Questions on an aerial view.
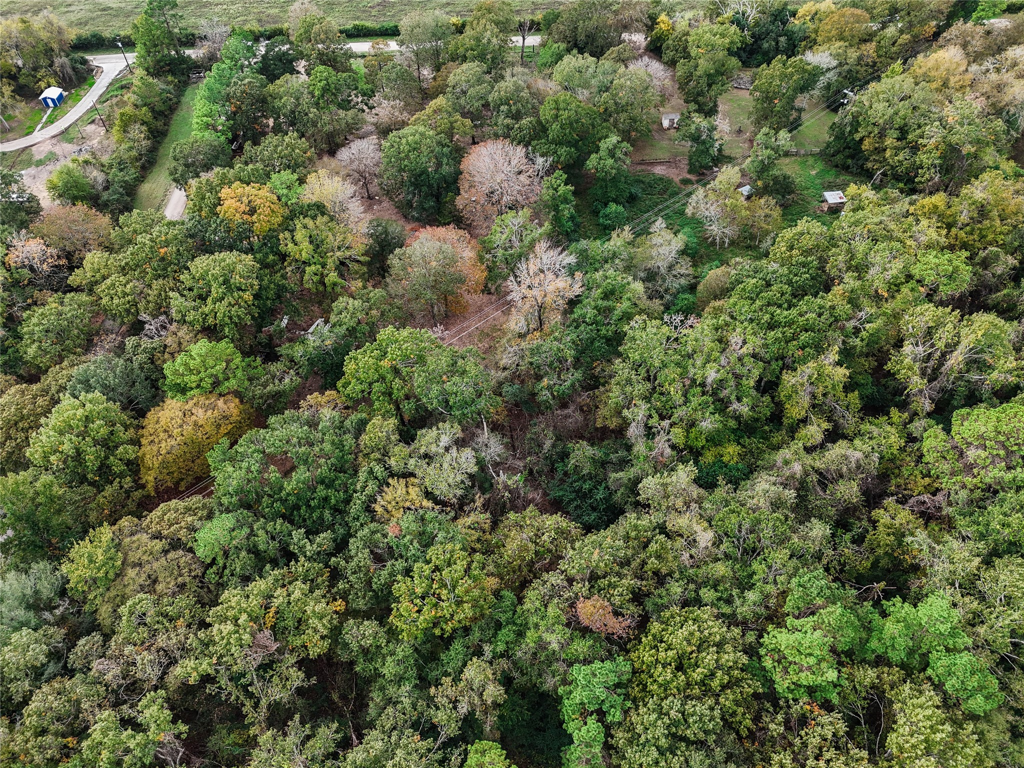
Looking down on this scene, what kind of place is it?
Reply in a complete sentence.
The area seen from above is a forest.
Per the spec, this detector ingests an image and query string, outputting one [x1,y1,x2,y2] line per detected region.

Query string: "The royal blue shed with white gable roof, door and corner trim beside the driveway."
[39,83,66,107]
